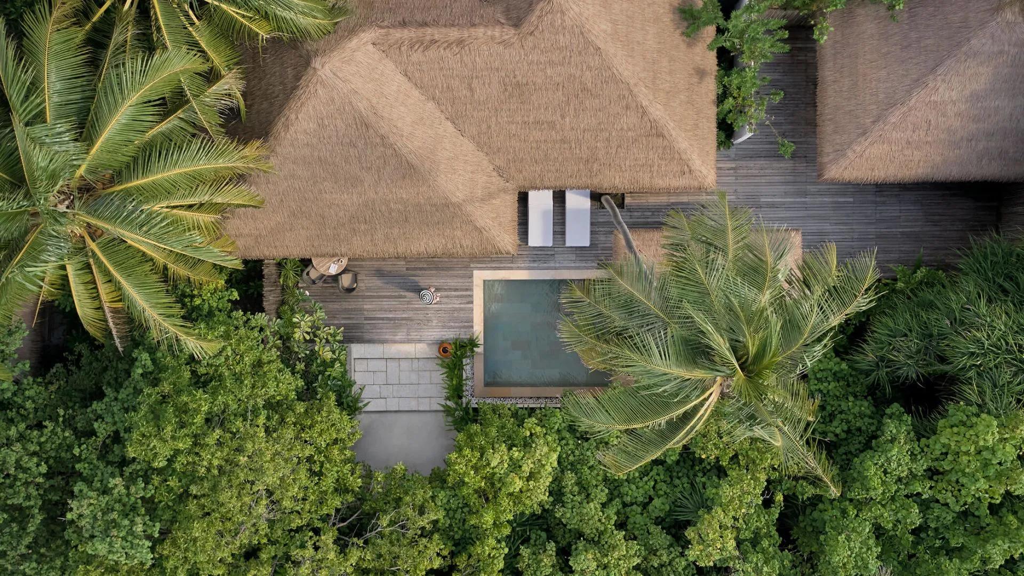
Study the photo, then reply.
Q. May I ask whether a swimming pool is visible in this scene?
Yes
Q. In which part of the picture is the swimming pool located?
center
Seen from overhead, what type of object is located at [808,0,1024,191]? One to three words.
shed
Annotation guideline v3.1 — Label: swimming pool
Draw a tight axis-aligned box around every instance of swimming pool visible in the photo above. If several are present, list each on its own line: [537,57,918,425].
[474,271,620,397]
